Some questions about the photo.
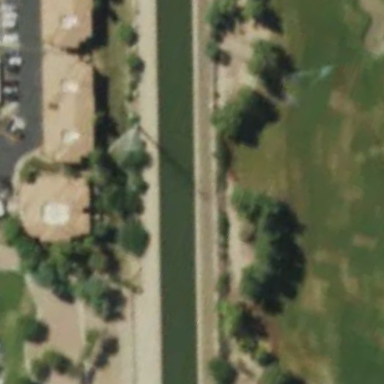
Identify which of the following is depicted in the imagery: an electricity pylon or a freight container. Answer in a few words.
electricity pylon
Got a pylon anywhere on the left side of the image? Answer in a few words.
Yes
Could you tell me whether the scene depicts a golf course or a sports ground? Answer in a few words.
golf course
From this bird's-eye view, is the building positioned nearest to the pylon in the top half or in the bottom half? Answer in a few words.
top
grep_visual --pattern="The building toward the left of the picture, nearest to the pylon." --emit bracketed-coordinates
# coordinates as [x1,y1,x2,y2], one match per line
[42,53,100,163]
